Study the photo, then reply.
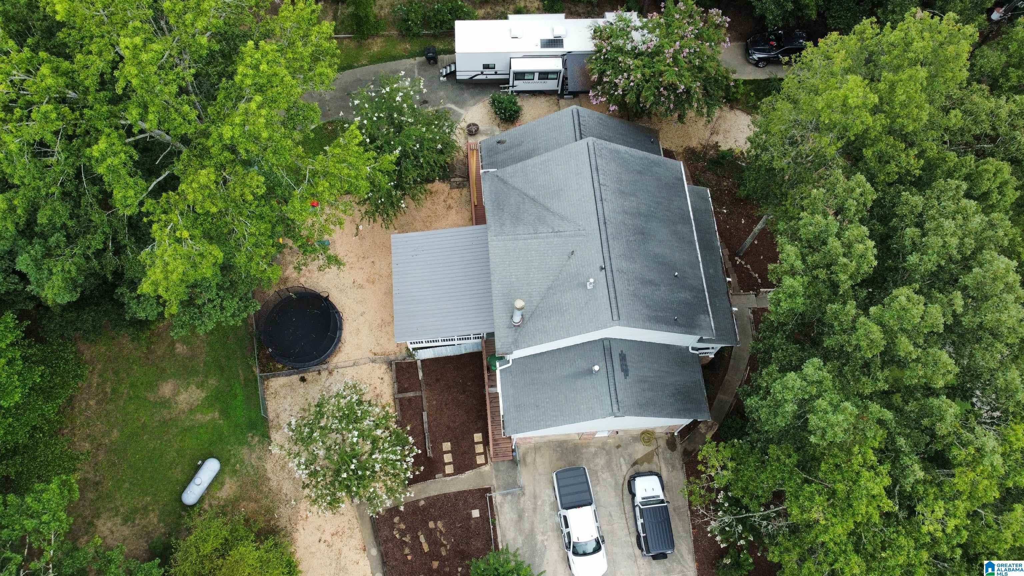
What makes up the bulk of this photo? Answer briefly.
trees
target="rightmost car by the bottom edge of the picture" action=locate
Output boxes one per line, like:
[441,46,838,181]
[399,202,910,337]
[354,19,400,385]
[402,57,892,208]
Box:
[628,470,674,556]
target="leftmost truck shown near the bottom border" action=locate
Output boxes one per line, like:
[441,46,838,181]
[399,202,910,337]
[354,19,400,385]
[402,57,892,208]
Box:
[549,465,610,576]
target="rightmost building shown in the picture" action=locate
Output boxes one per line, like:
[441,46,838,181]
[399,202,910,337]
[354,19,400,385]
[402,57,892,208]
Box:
[476,106,743,454]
